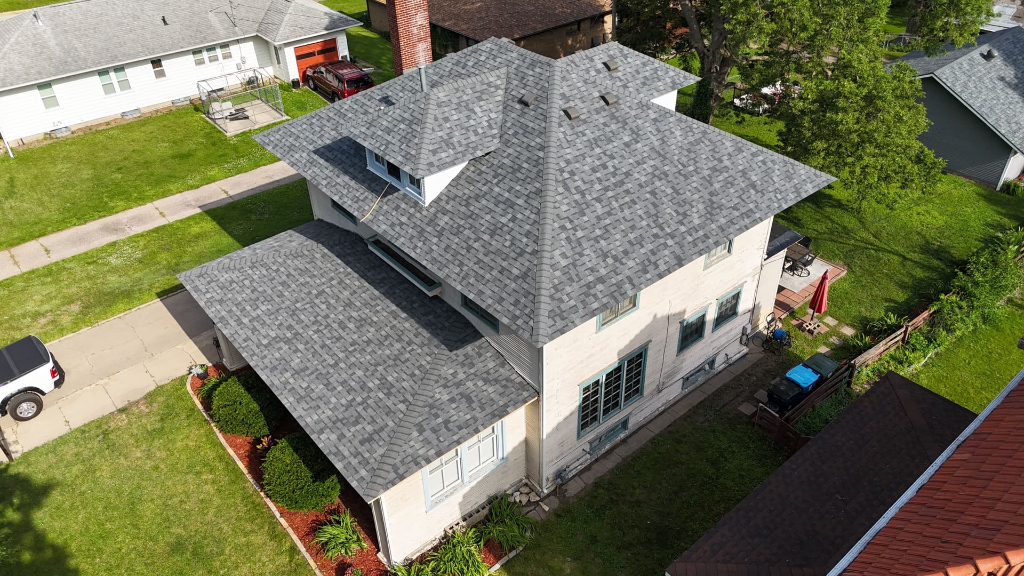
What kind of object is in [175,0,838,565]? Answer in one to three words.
house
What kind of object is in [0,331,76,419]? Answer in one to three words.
truck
